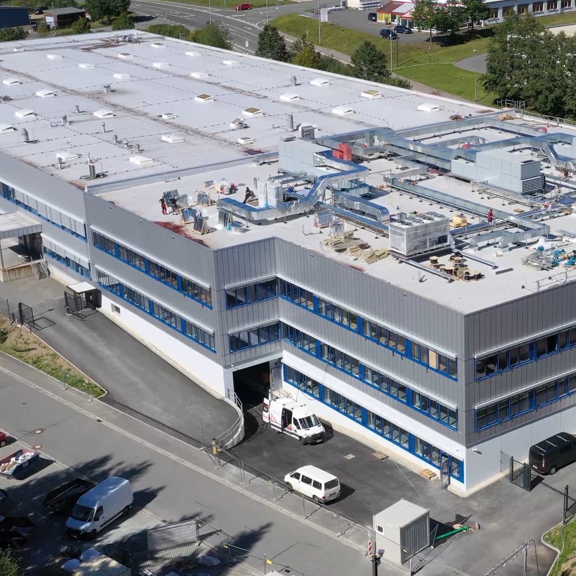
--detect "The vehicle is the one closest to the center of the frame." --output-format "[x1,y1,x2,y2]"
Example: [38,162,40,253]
[255,396,326,444]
